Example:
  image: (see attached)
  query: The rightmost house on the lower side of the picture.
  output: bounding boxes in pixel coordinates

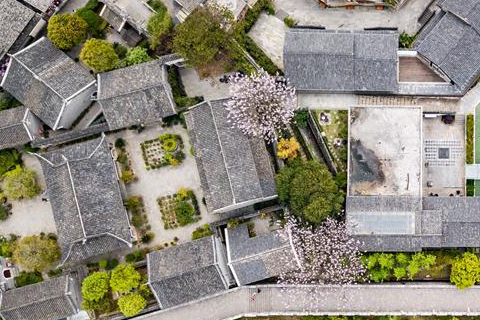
[425,197,480,247]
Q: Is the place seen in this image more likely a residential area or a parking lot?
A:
residential area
